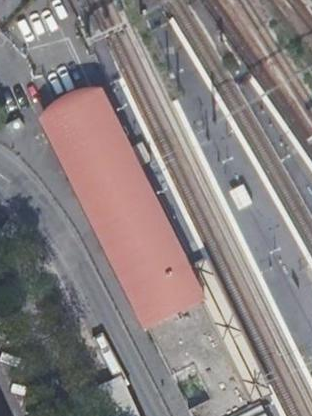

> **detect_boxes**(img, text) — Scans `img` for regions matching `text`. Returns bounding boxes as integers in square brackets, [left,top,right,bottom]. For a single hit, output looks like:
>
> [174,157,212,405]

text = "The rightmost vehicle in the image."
[98,334,122,372]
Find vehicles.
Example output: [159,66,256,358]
[14,86,28,107]
[17,18,34,42]
[52,0,68,18]
[27,82,40,102]
[57,64,73,88]
[42,9,58,32]
[98,334,122,372]
[47,70,63,93]
[30,12,46,36]
[2,88,16,110]
[0,352,21,366]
